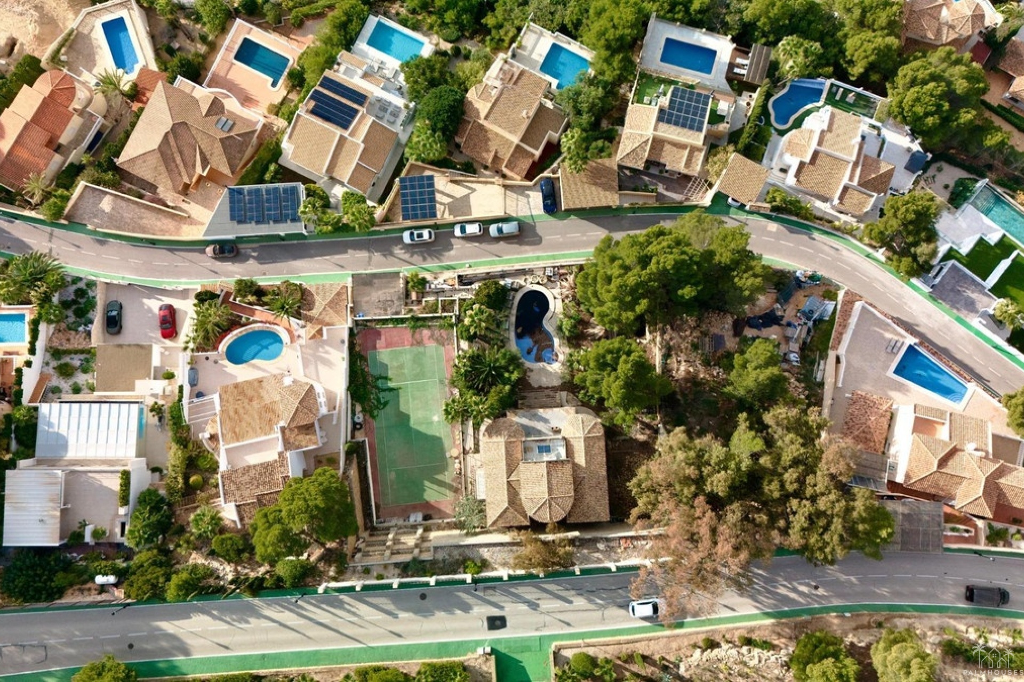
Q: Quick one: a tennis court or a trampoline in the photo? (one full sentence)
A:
There is a tennis court in the scene.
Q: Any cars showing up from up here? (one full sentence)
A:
Yes, there's a car down there.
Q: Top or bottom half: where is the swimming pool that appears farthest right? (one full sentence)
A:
It is in the top half that the swimming pool that appears farthest right appears.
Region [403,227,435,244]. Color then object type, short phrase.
white car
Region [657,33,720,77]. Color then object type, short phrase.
blue swimming pool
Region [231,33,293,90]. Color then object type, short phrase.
blue swimming pool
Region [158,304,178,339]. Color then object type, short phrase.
red car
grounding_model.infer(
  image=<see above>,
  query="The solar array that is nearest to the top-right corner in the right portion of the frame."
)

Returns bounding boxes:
[658,88,710,131]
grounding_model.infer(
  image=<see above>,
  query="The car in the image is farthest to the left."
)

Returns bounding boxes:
[105,300,124,335]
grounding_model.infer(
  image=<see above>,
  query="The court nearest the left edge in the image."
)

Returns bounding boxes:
[368,345,454,507]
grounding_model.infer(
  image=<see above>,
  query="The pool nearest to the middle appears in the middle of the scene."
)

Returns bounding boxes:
[509,285,561,370]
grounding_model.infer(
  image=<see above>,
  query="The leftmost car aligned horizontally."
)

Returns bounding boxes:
[205,241,239,258]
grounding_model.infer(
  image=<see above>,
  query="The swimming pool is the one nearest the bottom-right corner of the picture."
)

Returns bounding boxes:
[887,340,973,410]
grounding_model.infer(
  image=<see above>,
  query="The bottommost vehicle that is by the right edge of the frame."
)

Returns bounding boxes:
[965,586,1005,605]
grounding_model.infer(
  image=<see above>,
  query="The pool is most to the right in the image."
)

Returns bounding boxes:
[969,186,1024,254]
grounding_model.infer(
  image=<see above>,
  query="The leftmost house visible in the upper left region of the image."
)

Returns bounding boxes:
[0,69,116,209]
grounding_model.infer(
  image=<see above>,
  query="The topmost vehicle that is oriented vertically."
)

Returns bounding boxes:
[540,178,557,214]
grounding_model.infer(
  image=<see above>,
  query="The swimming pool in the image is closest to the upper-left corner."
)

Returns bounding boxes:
[97,12,143,79]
